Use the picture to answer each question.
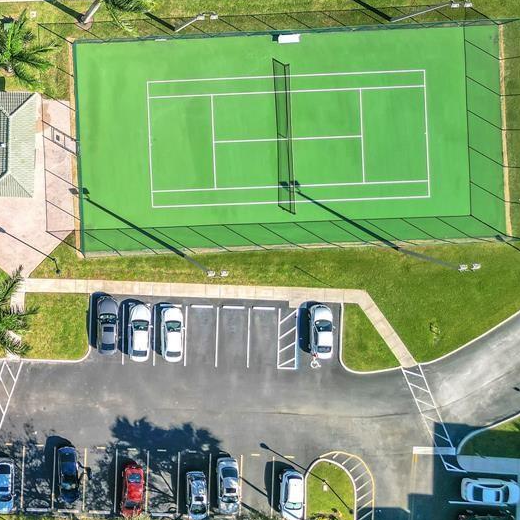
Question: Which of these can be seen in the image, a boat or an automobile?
automobile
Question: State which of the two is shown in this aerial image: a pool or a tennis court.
tennis court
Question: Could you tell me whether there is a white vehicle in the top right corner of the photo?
No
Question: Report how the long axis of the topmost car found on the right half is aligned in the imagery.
vertically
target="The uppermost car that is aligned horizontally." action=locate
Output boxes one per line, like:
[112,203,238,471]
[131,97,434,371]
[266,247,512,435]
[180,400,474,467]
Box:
[461,476,520,506]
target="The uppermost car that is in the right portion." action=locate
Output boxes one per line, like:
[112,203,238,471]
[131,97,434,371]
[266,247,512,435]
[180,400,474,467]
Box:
[306,303,335,358]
